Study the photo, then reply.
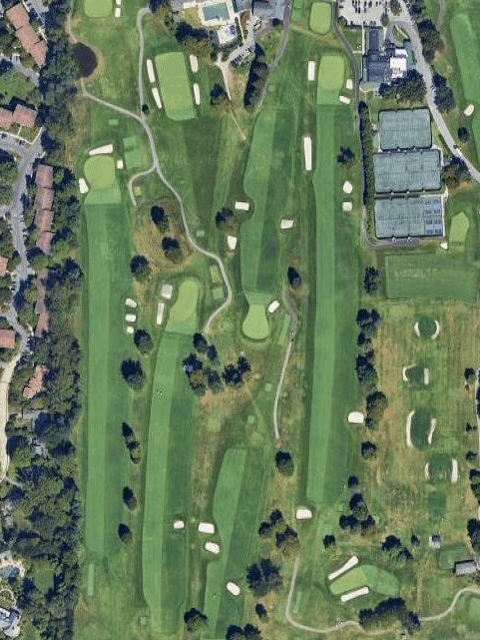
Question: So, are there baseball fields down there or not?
No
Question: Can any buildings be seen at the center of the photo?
No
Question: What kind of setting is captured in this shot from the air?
golf course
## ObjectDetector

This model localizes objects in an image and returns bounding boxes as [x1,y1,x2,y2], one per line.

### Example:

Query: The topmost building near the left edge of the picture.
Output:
[5,3,47,67]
